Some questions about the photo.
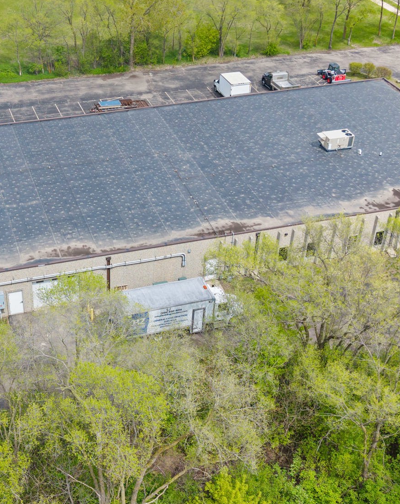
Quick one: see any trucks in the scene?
Yes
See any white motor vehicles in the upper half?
Yes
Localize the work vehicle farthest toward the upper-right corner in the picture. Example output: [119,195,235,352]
[315,62,345,84]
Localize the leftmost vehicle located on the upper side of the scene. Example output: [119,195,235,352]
[209,68,253,97]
